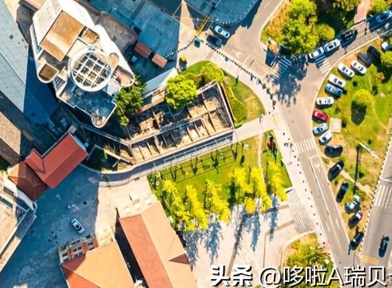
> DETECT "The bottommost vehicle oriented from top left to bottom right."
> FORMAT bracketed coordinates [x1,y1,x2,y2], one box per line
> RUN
[69,216,84,234]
